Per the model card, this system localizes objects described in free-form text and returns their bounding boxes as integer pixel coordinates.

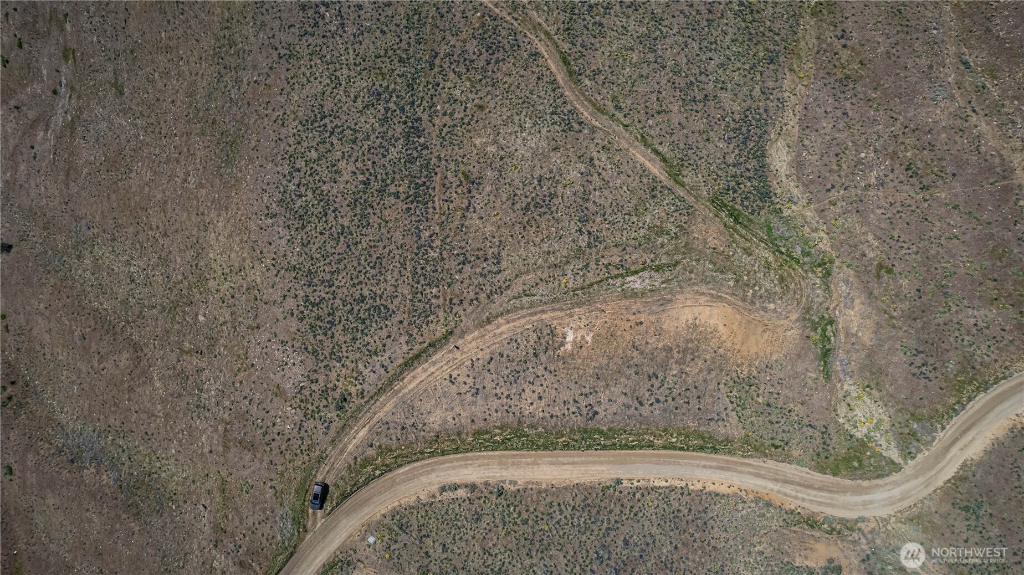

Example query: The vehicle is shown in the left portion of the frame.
[307,482,323,511]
